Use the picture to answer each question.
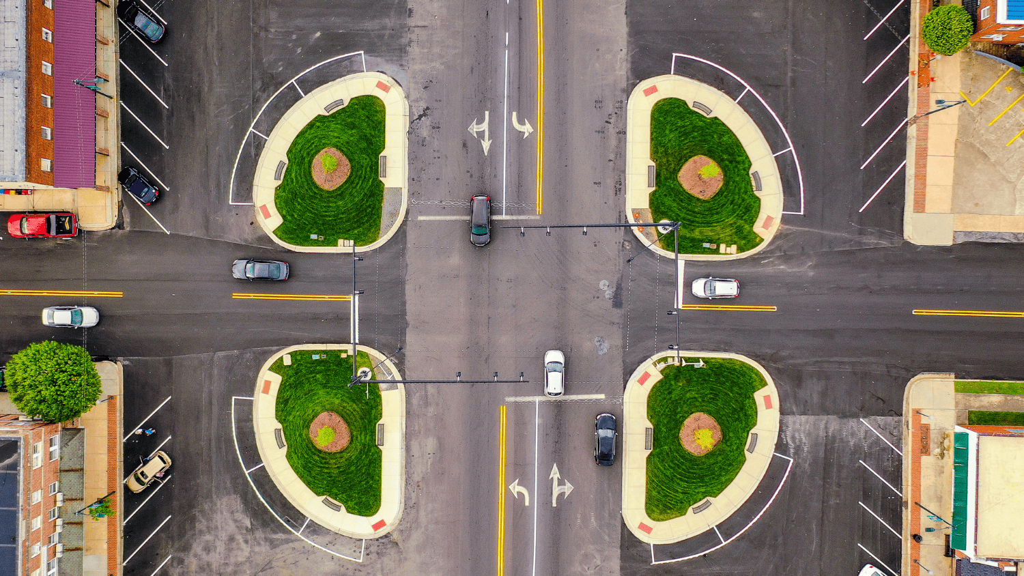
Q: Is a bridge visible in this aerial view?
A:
No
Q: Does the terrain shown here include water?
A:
No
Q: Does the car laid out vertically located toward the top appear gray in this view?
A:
Yes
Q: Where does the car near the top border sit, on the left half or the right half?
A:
left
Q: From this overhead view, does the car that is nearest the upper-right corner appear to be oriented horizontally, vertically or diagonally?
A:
horizontally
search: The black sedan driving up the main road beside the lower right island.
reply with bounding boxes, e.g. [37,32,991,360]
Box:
[593,413,618,466]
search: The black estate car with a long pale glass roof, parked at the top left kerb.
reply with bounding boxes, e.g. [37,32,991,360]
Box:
[116,0,170,44]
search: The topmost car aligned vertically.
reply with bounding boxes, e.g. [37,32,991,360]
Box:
[468,194,493,246]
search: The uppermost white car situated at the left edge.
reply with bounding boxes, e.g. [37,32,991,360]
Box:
[43,304,102,329]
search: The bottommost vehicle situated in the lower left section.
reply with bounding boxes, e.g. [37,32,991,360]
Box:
[125,448,176,494]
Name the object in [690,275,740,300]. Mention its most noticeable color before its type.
white car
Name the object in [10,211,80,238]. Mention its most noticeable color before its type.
red truck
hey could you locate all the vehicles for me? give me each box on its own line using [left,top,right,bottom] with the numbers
[690,275,740,300]
[542,349,567,398]
[116,166,166,208]
[116,0,170,44]
[593,413,618,466]
[43,304,102,329]
[125,448,176,494]
[468,194,493,246]
[856,563,885,576]
[10,211,80,238]
[233,256,291,282]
